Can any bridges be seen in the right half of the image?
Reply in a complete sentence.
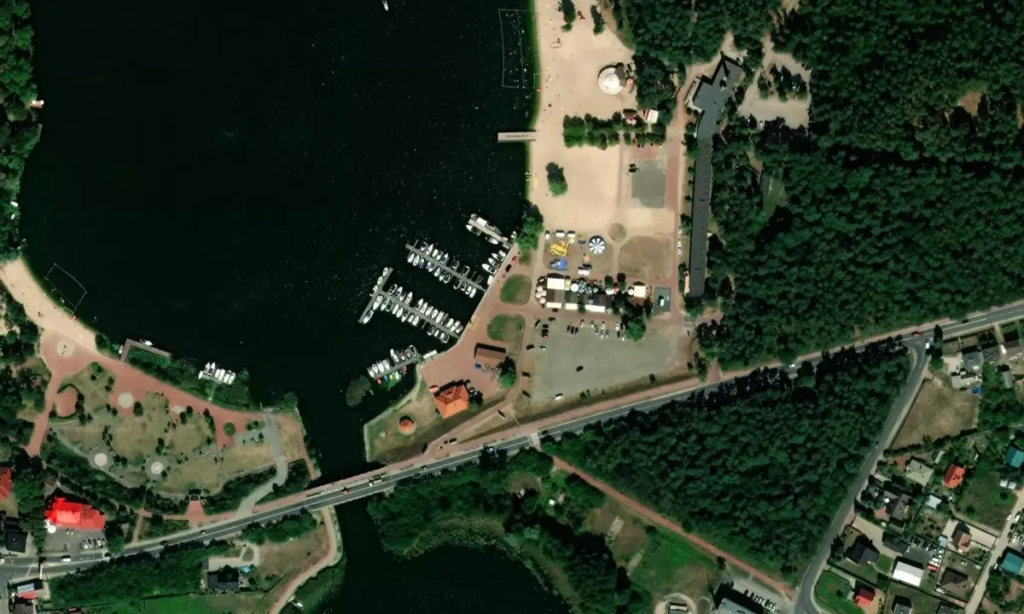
No, in the right half of the image there is no bridge.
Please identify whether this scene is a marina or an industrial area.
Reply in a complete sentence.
The area seen from above is a marina.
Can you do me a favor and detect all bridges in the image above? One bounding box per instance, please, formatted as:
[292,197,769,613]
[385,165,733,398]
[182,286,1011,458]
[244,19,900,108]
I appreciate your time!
[311,467,384,513]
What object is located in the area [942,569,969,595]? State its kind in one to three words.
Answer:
house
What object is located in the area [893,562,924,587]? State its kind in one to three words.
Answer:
building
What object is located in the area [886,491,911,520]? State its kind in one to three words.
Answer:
house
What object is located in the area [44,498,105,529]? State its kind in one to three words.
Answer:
building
